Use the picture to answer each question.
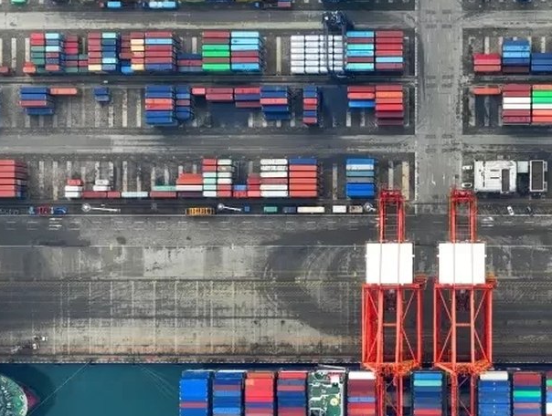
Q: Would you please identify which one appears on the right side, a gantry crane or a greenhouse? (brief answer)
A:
gantry crane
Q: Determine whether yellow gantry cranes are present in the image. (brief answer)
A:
No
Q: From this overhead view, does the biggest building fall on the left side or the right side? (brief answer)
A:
right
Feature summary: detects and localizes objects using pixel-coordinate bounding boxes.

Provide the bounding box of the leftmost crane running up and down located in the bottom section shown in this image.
[361,190,429,416]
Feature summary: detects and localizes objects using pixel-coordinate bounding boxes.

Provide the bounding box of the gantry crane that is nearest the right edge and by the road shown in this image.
[429,190,499,416]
